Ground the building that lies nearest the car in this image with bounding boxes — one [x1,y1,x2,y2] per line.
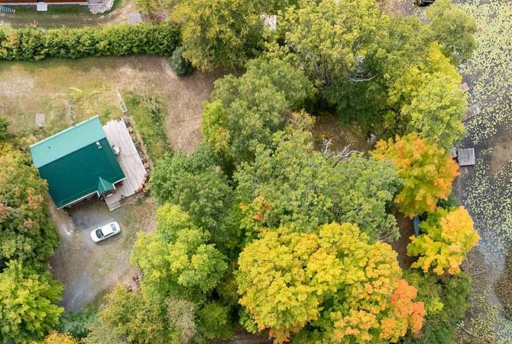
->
[29,115,147,211]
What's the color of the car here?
white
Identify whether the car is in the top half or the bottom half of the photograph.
bottom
